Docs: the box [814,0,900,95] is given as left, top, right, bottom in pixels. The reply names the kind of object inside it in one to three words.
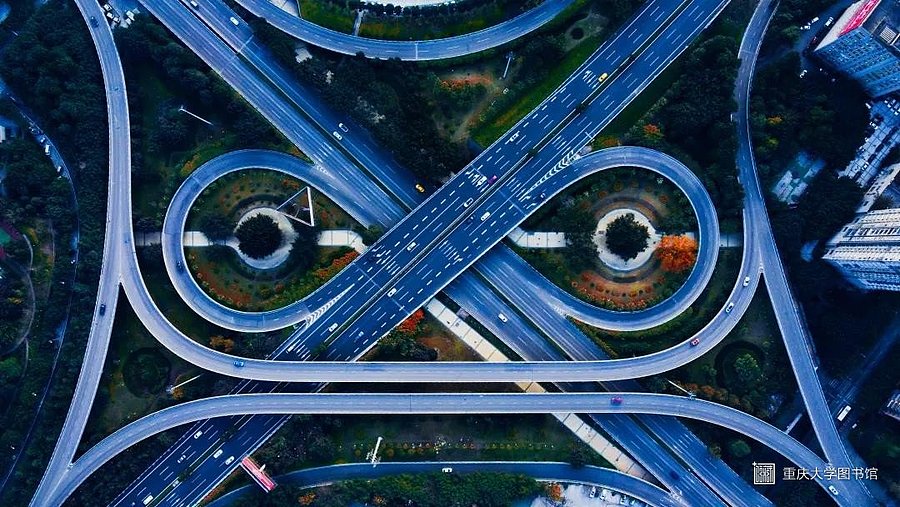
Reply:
building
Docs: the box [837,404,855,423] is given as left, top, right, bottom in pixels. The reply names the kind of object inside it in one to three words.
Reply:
vehicle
